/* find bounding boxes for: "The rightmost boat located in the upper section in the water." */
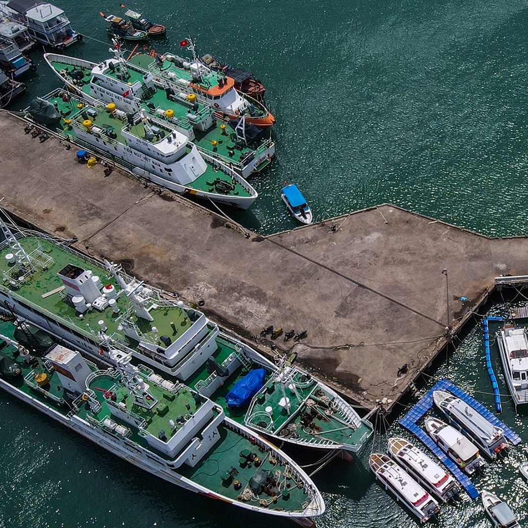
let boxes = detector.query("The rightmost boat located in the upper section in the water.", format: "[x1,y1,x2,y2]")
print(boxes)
[281,184,312,225]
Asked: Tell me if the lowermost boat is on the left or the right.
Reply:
right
